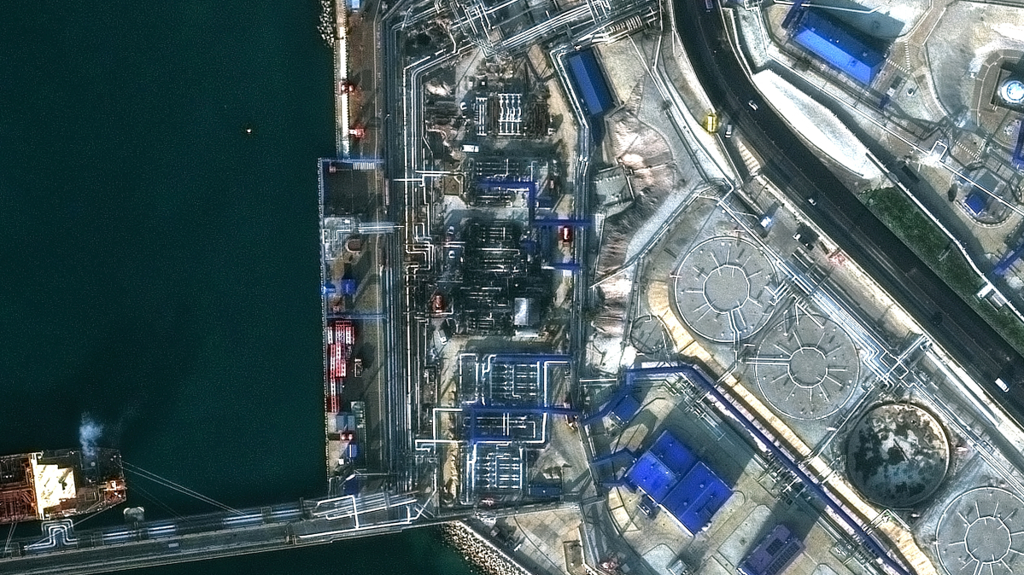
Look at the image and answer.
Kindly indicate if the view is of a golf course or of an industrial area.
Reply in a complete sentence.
What you see here is an industrial area.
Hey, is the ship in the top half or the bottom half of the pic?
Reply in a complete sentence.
The ship is in the bottom half of the image.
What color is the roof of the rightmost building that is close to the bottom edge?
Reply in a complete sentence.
From above, the roof of the rightmost building that is close to the bottom edge looks blue.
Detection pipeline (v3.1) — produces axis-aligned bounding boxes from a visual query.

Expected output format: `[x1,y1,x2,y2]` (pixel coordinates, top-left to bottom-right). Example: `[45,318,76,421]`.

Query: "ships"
[0,449,126,522]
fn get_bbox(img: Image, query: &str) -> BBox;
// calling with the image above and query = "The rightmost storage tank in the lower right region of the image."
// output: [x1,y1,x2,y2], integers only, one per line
[936,489,1024,575]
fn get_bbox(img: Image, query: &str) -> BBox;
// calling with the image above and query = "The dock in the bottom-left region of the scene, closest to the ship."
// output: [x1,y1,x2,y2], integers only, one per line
[0,490,447,575]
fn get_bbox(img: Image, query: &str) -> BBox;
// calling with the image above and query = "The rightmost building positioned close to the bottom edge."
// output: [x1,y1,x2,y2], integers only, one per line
[738,525,804,575]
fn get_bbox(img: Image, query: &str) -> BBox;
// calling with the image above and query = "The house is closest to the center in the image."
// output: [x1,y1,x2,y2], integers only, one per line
[514,298,540,327]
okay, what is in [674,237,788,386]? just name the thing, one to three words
storage tank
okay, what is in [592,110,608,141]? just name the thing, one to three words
building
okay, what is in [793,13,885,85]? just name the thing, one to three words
building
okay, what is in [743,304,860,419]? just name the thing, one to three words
storage tank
